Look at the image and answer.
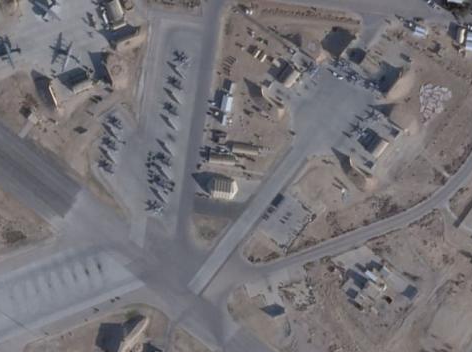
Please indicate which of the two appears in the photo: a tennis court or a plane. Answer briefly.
plane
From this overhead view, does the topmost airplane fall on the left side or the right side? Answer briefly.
left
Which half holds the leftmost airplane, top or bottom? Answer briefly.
top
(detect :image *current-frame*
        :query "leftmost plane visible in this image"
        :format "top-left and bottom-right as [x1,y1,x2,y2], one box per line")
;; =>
[0,40,21,70]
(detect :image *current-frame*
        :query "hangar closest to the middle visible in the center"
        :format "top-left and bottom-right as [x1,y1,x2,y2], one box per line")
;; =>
[213,178,236,199]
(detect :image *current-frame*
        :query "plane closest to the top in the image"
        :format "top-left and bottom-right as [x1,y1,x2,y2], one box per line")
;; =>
[34,0,60,24]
